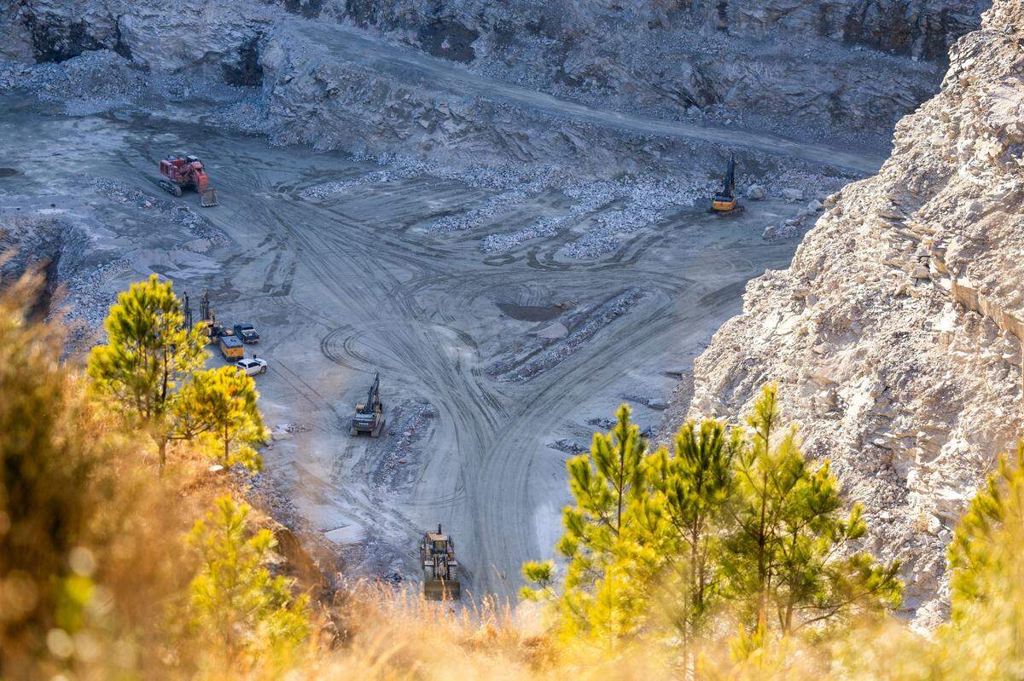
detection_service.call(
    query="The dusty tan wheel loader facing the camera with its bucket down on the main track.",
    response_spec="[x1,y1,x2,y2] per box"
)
[423,527,459,602]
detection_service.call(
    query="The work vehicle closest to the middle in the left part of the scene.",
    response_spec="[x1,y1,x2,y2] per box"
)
[345,360,388,440]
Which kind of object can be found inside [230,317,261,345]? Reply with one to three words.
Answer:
truck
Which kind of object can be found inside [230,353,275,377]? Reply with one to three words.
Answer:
truck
